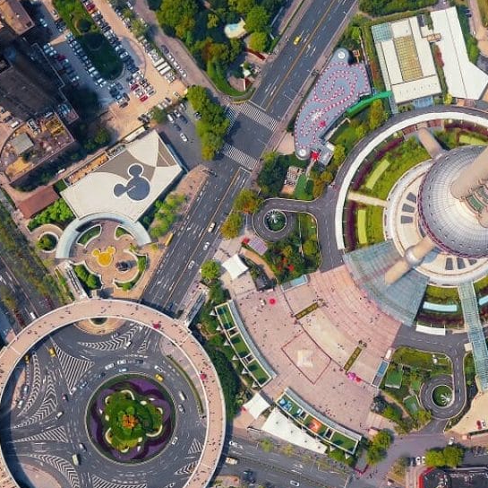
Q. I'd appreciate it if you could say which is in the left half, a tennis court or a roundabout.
roundabout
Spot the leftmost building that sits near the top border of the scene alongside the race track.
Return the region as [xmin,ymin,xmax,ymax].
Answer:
[370,16,441,113]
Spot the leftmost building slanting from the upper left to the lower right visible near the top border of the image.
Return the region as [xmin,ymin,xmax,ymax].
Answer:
[0,0,49,46]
